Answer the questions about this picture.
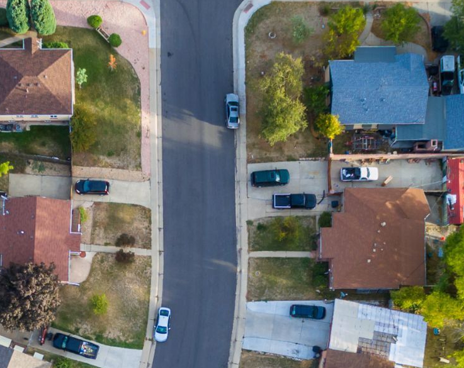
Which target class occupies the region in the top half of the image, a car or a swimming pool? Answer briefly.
car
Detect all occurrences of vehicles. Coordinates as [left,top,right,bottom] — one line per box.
[224,93,241,130]
[339,164,378,182]
[51,333,100,359]
[74,177,110,195]
[289,303,326,321]
[272,191,316,209]
[430,24,446,53]
[250,167,290,186]
[438,50,458,92]
[153,307,170,342]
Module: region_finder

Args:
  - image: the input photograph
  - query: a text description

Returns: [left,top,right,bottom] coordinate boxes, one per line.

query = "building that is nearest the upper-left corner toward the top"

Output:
[0,28,72,121]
